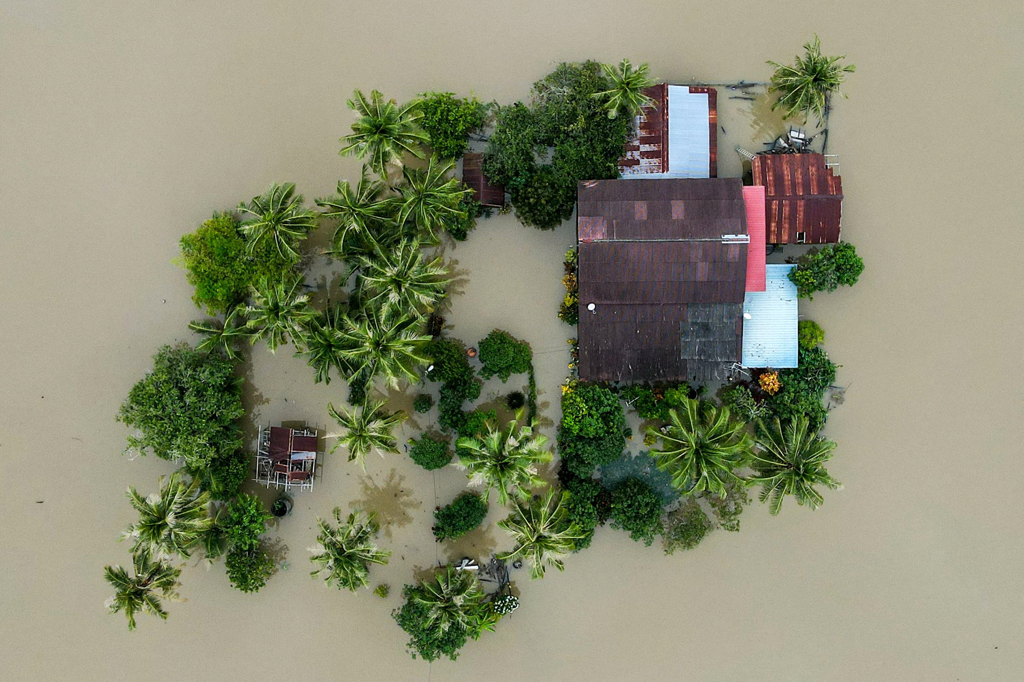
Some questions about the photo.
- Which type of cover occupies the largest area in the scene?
water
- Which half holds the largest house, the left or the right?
right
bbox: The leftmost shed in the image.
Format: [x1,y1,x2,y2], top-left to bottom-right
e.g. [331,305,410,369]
[252,424,321,492]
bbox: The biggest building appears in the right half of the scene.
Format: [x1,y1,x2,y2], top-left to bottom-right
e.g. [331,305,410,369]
[576,178,799,382]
